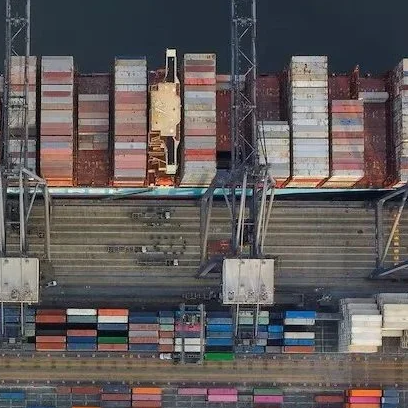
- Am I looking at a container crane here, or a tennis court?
container crane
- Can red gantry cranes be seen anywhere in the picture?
No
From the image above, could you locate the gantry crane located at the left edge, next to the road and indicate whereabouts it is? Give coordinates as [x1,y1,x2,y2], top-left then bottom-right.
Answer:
[0,0,59,340]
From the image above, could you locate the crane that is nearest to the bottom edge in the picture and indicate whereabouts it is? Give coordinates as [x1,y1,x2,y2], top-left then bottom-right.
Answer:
[169,304,205,363]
